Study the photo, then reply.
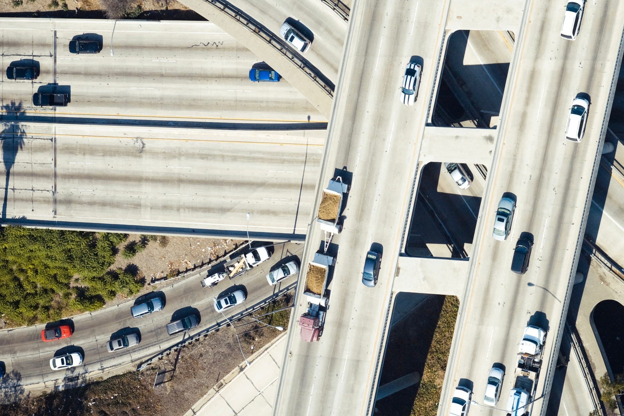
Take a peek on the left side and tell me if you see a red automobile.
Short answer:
Yes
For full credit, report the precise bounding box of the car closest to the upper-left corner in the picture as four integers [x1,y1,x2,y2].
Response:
[7,64,38,81]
